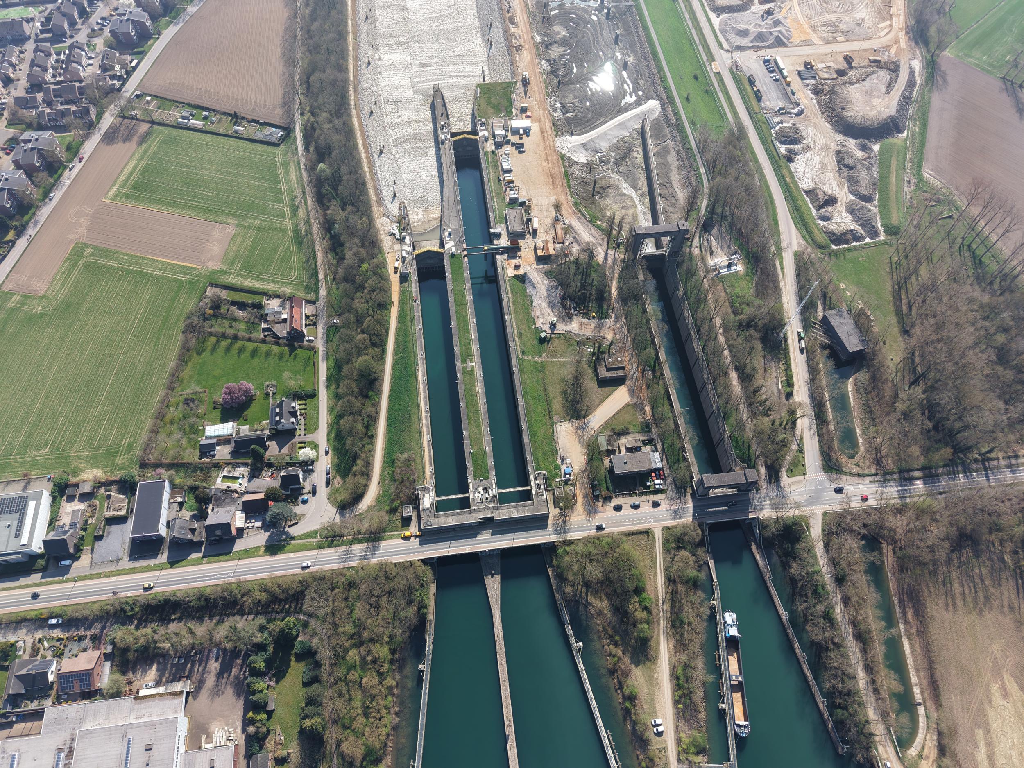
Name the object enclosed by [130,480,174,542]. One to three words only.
house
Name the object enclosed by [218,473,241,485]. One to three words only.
swimming pool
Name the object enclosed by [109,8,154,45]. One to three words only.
building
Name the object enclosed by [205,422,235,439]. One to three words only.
greenhouse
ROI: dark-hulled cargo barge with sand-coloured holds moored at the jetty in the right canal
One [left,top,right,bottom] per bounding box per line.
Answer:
[725,611,757,738]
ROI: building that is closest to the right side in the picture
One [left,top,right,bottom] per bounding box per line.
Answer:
[819,307,869,364]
